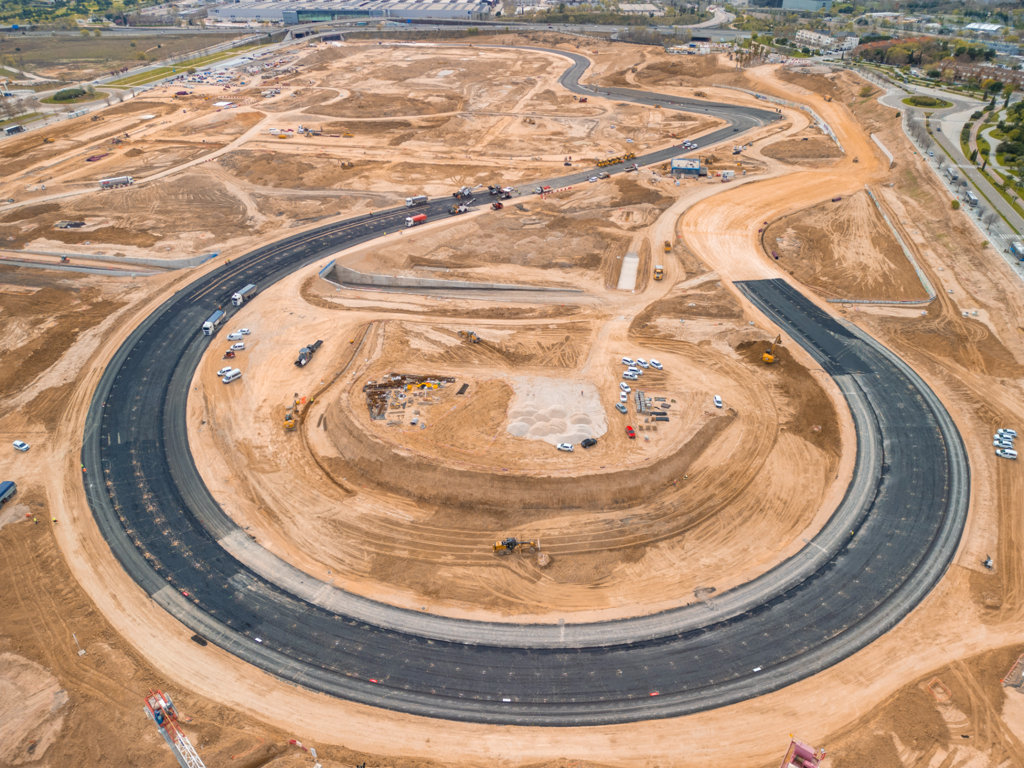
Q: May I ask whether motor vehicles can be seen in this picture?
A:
Yes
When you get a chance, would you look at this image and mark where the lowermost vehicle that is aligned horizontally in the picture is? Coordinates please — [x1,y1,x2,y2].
[494,534,538,555]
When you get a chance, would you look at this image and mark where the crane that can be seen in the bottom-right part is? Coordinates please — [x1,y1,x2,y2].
[777,732,828,768]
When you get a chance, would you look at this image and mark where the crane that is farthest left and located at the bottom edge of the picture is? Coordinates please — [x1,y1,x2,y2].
[138,687,198,768]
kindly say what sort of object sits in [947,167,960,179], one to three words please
vehicle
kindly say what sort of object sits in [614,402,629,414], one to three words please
vehicle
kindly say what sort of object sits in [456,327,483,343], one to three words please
work vehicle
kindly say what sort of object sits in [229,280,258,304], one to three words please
truck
